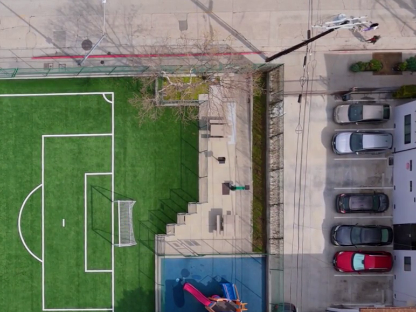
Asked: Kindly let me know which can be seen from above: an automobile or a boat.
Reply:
automobile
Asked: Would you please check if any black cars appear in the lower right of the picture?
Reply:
Yes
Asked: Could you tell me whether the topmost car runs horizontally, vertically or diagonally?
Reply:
horizontally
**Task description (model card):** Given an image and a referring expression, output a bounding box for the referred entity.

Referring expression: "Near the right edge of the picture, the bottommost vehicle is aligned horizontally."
[331,247,396,276]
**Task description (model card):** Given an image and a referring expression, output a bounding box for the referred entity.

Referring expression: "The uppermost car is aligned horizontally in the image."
[331,100,392,125]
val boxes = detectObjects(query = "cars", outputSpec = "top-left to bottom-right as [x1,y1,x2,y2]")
[331,100,392,125]
[333,190,389,216]
[331,247,396,276]
[328,221,393,248]
[330,128,396,157]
